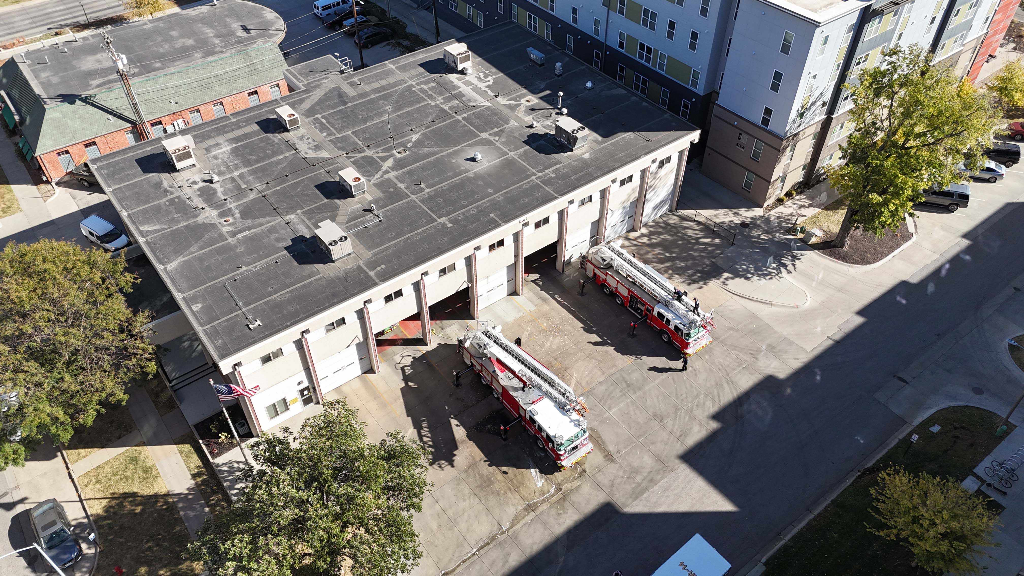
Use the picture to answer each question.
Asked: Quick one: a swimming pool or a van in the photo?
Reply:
van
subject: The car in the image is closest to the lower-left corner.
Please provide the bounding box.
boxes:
[29,500,89,574]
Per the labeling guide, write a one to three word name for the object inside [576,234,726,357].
truck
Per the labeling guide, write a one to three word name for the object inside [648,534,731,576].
truck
